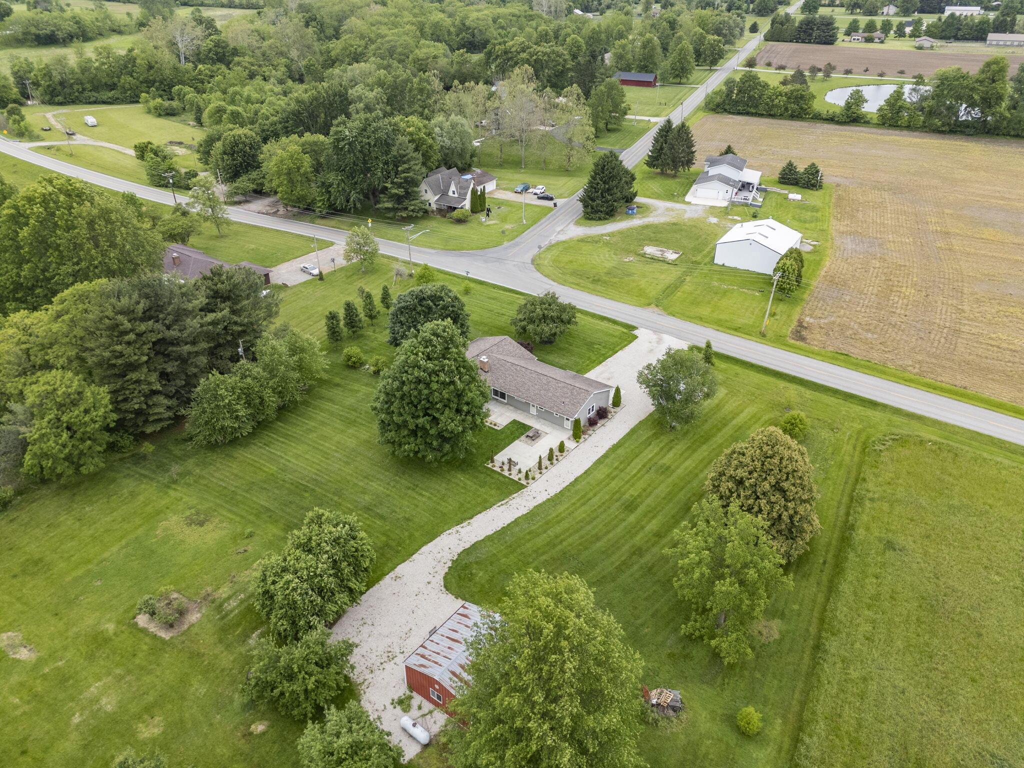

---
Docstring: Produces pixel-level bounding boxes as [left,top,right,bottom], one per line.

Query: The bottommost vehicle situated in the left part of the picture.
[300,263,319,275]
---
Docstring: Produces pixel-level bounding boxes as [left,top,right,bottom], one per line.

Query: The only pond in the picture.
[825,84,992,120]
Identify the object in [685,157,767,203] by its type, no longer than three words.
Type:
house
